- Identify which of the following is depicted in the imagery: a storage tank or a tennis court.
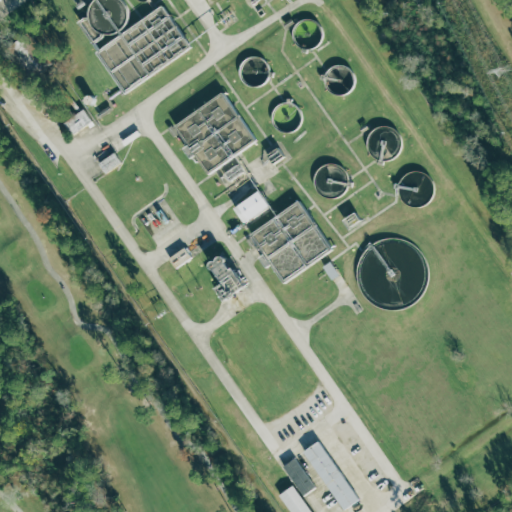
storage tank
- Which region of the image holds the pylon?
top right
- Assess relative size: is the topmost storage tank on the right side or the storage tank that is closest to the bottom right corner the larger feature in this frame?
the storage tank that is closest to the bottom right corner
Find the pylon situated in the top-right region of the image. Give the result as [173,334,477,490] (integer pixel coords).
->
[488,64,511,87]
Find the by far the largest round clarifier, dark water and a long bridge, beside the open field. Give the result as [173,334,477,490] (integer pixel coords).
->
[357,238,430,312]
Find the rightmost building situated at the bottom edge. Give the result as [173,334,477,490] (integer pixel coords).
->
[304,442,361,511]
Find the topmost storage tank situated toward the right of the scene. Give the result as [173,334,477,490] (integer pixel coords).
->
[293,19,325,55]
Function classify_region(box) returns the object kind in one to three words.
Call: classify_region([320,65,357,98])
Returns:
storage tank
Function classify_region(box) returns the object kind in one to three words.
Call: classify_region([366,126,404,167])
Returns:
storage tank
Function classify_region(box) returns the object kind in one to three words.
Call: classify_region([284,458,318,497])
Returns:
building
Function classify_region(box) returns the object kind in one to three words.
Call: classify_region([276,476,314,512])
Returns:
building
